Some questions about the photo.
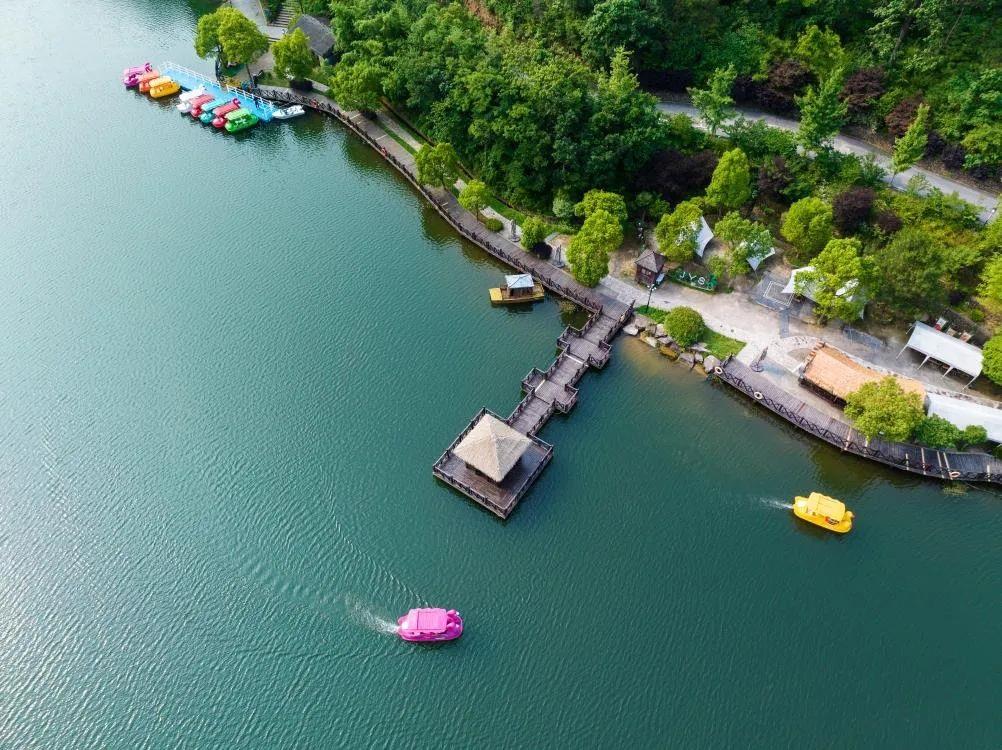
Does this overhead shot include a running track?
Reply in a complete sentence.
No, the picture doesn't show any running track.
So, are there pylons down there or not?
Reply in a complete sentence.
No, no pylon is visible in the scene.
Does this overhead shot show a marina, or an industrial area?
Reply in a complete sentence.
What you see here is a marina.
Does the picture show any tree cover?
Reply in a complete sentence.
Yes, tree cover can be seen from above here.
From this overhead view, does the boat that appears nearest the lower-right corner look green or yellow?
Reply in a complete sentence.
The color of the boat that appears nearest the lower-right corner is yellow.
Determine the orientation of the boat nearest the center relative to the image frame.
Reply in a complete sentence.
The boat nearest the center runs from left to right in the image.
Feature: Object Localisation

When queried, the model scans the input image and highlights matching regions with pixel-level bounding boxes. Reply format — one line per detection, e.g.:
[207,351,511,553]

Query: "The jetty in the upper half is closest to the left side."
[159,59,275,123]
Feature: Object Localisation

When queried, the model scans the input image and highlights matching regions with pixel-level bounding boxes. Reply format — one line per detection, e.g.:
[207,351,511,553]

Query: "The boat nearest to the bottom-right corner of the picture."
[793,495,860,534]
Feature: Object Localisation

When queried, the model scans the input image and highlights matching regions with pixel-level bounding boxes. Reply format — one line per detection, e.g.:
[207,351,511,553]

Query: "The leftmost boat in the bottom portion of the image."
[396,608,465,645]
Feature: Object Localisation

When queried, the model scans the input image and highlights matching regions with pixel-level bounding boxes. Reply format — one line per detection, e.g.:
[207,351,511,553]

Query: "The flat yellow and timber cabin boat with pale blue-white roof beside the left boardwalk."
[488,276,546,305]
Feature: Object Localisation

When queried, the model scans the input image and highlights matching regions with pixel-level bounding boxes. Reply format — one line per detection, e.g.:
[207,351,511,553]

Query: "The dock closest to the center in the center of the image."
[434,299,635,520]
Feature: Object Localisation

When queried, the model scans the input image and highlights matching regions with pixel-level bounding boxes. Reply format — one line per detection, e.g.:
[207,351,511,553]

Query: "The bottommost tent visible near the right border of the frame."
[897,320,982,392]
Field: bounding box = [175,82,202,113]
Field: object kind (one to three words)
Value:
boat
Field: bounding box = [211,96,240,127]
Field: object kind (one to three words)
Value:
boat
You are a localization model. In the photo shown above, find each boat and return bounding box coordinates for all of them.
[488,276,546,305]
[134,70,163,95]
[119,62,146,91]
[188,93,215,118]
[200,98,226,124]
[793,495,860,534]
[175,82,202,113]
[226,107,258,133]
[211,96,240,127]
[396,608,465,645]
[148,76,182,101]
[268,102,307,121]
